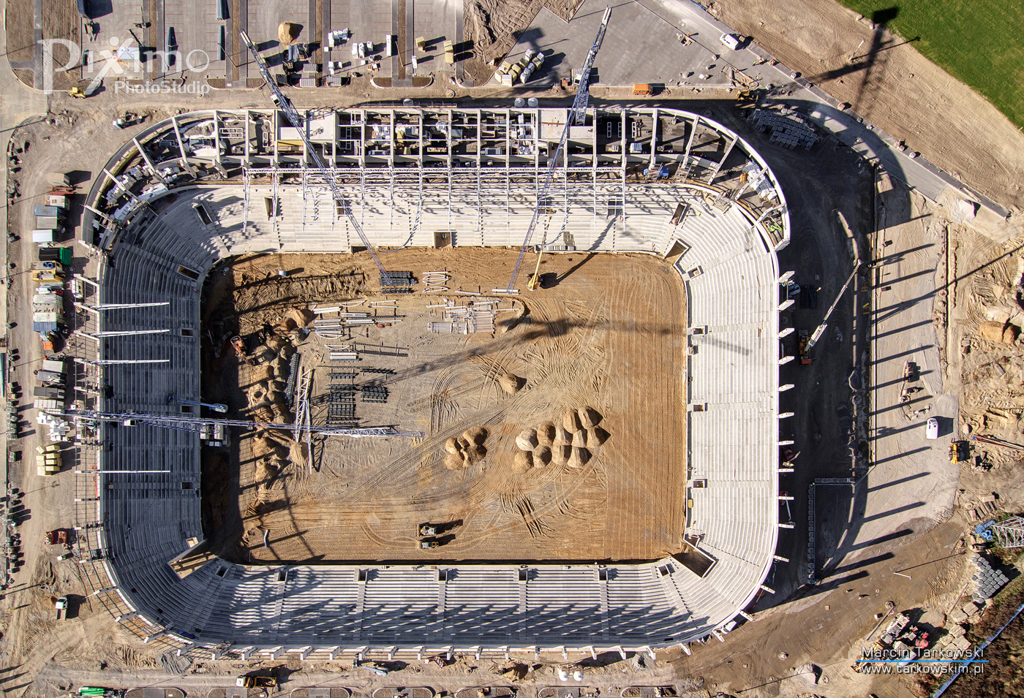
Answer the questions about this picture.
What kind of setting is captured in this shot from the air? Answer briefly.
sports ground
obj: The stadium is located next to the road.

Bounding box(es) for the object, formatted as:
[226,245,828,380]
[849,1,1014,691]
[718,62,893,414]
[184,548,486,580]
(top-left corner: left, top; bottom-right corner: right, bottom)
[74,108,794,660]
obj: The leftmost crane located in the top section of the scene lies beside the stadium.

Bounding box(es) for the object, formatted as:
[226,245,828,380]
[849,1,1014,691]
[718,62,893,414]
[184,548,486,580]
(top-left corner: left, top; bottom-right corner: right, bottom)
[238,29,388,281]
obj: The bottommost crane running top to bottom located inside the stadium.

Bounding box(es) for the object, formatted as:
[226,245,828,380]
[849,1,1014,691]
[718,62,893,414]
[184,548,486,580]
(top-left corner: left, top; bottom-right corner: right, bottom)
[517,211,554,302]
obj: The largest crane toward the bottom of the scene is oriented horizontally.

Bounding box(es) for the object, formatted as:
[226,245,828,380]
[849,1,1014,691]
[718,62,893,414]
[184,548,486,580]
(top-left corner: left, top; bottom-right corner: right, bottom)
[55,408,424,442]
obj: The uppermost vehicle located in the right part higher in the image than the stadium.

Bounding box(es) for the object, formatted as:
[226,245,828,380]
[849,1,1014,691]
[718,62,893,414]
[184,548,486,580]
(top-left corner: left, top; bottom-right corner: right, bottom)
[720,31,741,49]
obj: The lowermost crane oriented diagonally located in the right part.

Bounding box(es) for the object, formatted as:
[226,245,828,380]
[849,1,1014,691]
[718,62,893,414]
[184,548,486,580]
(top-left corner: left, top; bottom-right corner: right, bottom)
[791,260,861,367]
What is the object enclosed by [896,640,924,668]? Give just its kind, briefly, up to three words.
truck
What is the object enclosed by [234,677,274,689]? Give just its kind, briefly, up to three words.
vehicle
